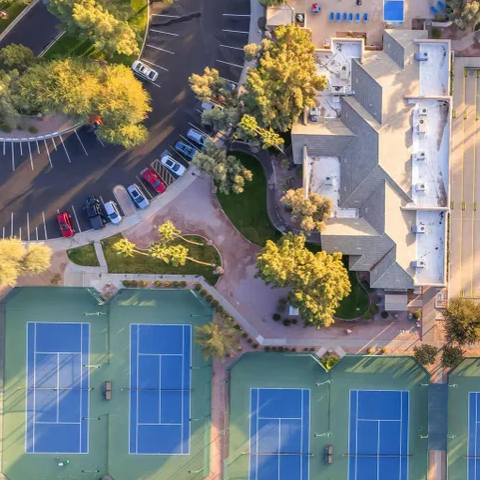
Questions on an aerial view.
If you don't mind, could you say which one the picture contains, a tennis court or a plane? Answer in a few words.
tennis court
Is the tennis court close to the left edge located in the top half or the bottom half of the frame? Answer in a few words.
bottom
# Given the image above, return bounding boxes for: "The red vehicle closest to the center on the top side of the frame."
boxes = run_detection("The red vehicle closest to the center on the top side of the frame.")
[141,170,166,194]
